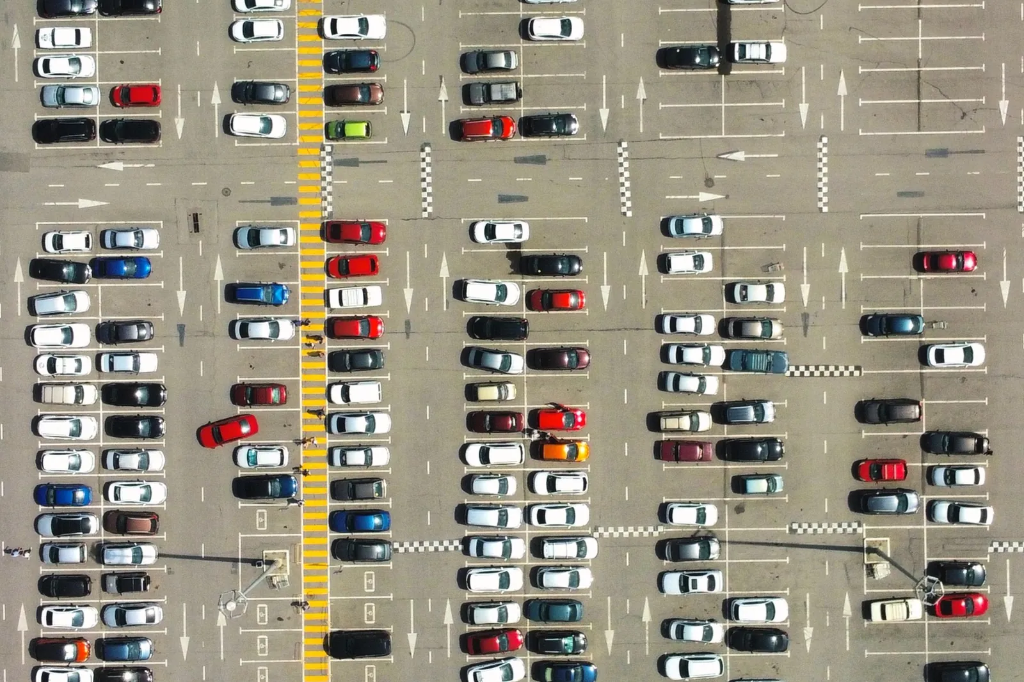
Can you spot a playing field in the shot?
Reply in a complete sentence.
No, there's no playing field here.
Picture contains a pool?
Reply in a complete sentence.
No, this view has no pool in it.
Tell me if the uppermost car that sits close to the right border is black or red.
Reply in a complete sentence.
The uppermost car that sits close to the right border looks red in the image.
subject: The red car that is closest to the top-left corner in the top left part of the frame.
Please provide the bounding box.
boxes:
[112,82,162,109]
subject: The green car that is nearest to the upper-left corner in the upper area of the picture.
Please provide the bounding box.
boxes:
[325,117,372,143]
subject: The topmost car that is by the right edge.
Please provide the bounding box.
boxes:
[922,248,977,275]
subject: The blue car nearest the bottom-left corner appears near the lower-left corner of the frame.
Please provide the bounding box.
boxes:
[102,636,154,664]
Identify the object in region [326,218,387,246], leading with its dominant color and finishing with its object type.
red car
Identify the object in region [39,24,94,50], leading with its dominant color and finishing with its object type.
white car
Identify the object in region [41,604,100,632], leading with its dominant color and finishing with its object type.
white car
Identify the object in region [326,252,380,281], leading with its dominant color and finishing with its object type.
red car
